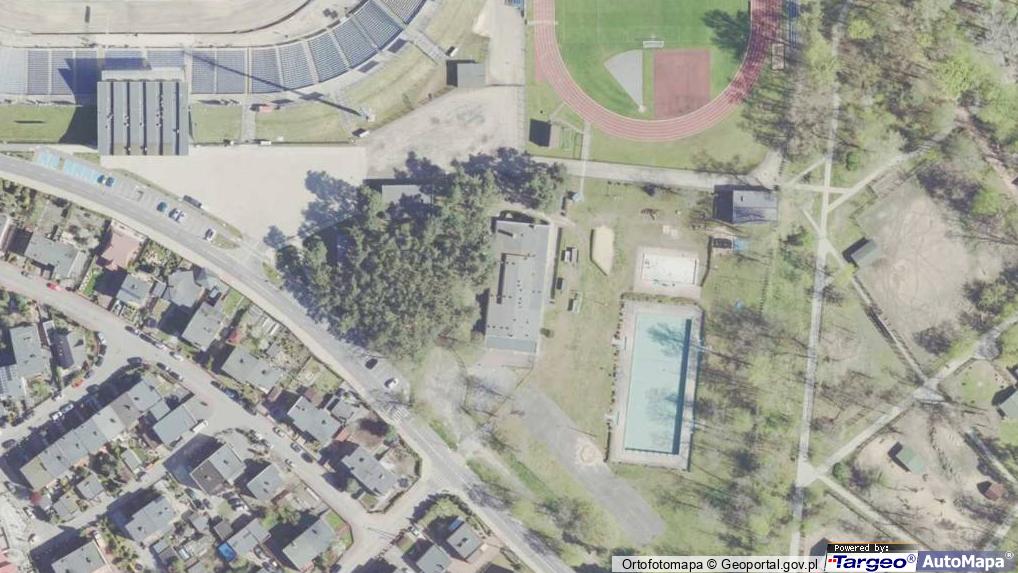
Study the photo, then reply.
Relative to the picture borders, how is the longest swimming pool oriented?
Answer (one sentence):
The longest swimming pool is oriented from top to bottom.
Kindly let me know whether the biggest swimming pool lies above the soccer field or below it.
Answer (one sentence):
The biggest swimming pool appears below the soccer field in the picture.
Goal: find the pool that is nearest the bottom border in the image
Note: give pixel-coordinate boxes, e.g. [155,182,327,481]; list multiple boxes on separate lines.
[218,543,236,562]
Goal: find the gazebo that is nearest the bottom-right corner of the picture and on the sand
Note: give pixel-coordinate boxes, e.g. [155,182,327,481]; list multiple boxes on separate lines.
[987,483,1006,499]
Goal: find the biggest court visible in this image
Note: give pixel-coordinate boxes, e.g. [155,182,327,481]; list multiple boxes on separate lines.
[653,51,710,118]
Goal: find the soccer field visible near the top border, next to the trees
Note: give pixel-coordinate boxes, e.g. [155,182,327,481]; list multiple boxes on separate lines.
[557,0,749,118]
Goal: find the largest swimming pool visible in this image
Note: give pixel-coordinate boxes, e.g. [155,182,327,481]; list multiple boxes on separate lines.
[608,303,704,472]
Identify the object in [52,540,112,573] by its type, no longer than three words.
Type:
house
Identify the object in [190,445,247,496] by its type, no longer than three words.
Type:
house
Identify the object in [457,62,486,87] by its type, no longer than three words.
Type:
building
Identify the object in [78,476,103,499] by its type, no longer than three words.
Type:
building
